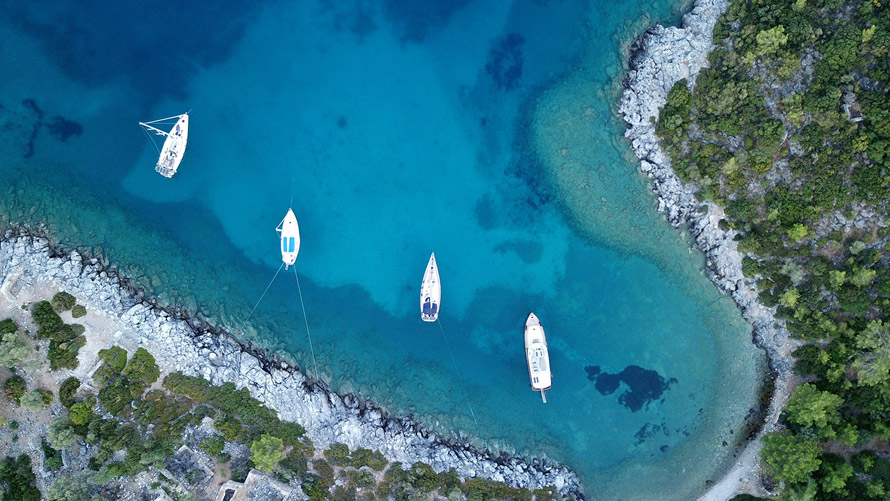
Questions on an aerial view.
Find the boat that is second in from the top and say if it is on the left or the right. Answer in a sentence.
It is on the left.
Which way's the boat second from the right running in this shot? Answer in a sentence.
The boat second from the right is oriented up and down.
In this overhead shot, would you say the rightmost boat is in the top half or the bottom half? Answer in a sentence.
The rightmost boat sits in the bottom half of the picture.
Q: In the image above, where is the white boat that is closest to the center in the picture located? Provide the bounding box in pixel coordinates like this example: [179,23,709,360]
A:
[420,250,442,324]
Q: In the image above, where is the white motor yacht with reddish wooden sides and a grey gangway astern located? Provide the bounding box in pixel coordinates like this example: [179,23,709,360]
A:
[526,311,554,401]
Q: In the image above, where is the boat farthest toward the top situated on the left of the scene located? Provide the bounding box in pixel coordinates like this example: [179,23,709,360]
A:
[144,110,188,179]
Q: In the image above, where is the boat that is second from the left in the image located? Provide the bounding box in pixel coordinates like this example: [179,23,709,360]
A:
[275,207,298,270]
